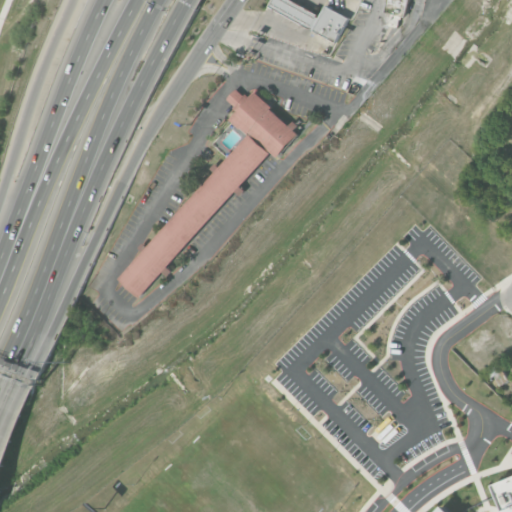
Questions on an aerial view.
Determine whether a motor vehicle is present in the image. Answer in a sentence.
Yes, there is a motor vehicle in the image.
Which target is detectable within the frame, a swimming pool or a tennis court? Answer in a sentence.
This aerial view contains a swimming pool.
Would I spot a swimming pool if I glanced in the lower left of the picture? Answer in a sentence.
No, I see no swimming pool in the lower left of the picture.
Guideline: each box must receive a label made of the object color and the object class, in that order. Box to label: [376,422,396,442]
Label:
white vehicle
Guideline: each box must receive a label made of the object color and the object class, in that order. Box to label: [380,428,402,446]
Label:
white vehicle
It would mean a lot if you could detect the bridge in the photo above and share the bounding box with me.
[0,352,42,469]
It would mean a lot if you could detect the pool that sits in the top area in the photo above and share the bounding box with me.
[213,123,248,156]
